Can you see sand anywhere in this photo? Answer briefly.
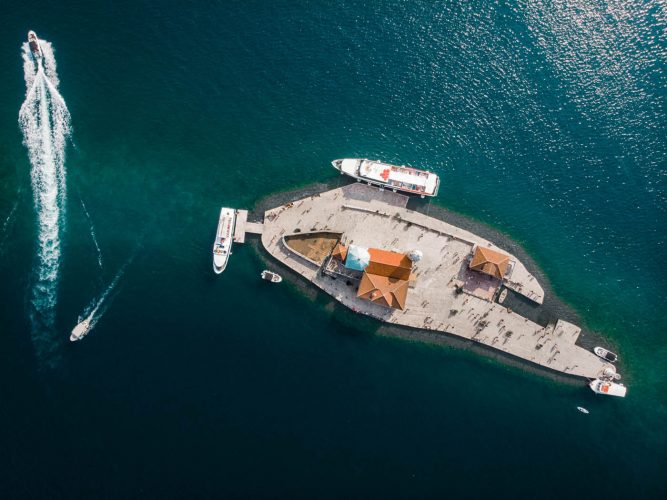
No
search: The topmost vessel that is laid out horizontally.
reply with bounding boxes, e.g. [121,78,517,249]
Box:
[332,158,442,197]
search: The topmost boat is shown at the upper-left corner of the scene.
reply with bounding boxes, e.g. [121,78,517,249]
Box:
[31,31,46,61]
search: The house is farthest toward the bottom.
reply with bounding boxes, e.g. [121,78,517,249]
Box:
[357,271,409,310]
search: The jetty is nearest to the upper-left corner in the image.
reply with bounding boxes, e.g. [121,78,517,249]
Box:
[234,210,263,243]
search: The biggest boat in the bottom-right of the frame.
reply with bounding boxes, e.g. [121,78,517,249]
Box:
[588,380,628,397]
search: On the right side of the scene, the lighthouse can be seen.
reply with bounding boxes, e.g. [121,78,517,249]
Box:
[604,366,622,379]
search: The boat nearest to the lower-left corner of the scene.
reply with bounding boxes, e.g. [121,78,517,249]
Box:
[70,315,94,341]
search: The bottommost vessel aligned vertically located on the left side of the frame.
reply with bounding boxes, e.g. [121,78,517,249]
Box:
[214,207,236,274]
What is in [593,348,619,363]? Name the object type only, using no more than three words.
boat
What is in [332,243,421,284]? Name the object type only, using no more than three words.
building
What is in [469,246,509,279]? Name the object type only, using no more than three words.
building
